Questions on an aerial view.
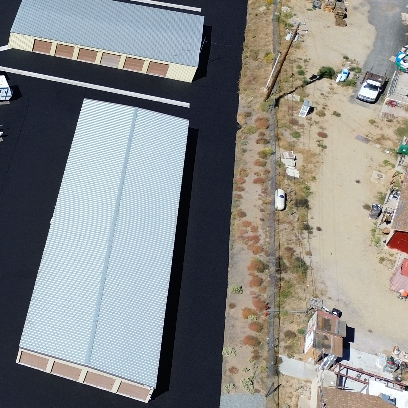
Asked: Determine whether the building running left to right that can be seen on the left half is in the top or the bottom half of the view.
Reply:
top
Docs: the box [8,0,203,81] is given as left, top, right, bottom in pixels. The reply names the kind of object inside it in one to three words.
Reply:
building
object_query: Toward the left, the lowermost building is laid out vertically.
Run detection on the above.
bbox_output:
[17,99,189,400]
